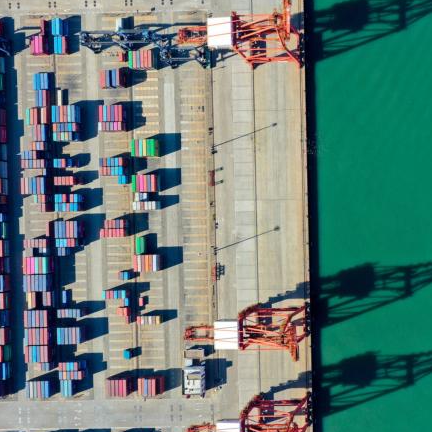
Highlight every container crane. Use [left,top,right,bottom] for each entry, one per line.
[155,45,219,75]
[78,29,169,60]
[178,0,304,78]
[185,386,311,432]
[184,297,309,373]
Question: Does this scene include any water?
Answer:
Yes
